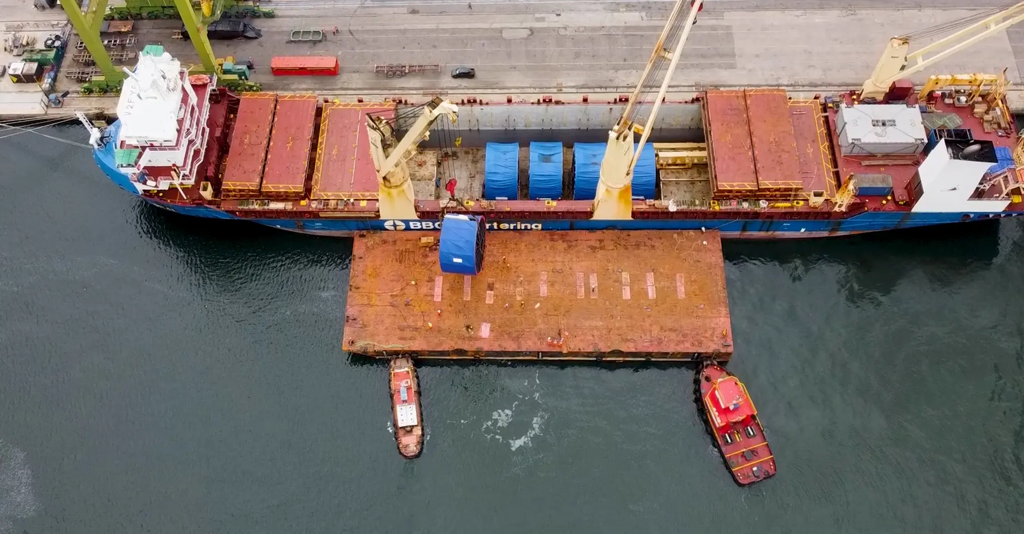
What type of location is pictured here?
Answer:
port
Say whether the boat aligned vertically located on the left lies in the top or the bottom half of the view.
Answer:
bottom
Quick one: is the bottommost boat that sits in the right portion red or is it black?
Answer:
red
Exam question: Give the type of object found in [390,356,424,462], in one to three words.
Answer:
boat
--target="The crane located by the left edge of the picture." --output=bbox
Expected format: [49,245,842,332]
[51,0,288,93]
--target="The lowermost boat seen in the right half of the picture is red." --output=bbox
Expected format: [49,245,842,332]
[692,355,781,488]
